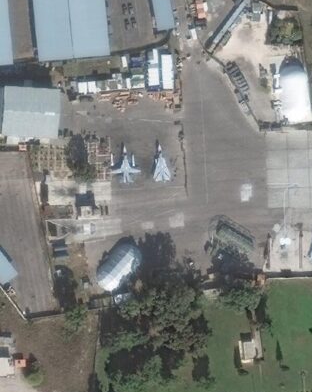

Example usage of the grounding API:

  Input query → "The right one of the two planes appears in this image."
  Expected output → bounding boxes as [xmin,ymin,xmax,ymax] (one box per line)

[155,143,172,182]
